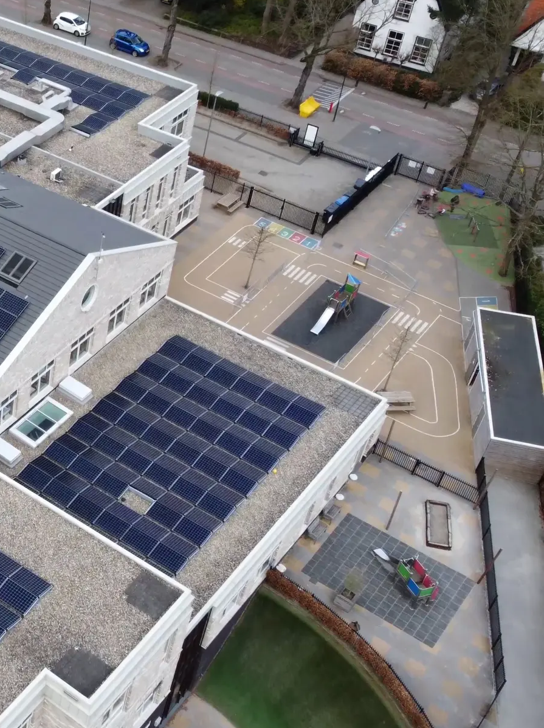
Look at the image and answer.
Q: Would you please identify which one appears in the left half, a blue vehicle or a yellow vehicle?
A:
blue vehicle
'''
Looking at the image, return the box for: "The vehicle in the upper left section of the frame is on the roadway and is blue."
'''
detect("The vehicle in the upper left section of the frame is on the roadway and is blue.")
[114,29,154,56]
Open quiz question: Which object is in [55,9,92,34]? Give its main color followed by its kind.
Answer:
white car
